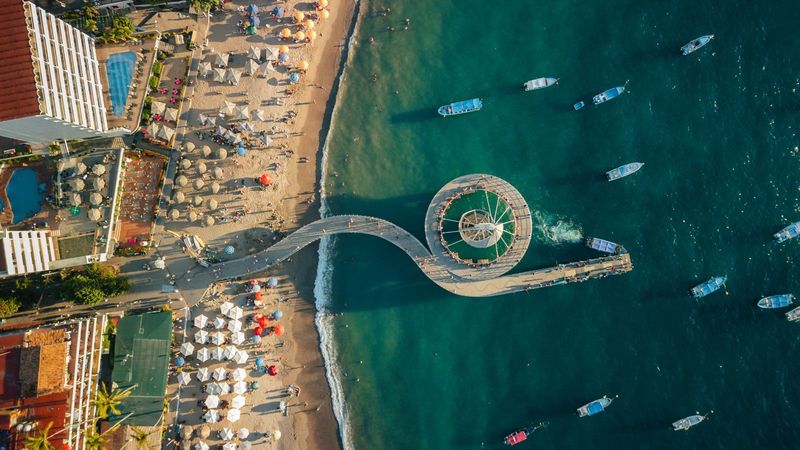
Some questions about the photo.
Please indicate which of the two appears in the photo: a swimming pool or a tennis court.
swimming pool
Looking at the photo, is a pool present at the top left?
Yes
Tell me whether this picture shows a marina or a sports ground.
marina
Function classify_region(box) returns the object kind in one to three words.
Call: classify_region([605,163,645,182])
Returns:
boat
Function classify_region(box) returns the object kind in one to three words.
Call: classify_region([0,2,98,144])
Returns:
building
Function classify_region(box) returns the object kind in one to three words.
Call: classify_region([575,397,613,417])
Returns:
boat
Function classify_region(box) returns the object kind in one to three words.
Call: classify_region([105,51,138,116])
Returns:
swimming pool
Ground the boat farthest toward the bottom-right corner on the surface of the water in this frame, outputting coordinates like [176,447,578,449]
[670,415,705,430]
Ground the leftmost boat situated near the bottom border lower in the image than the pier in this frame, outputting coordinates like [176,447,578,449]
[502,429,534,447]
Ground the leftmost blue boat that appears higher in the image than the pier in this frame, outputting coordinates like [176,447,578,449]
[438,97,485,115]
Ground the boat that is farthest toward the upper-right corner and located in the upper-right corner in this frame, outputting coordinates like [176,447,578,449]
[679,36,714,55]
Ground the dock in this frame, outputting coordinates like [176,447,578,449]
[196,173,634,297]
